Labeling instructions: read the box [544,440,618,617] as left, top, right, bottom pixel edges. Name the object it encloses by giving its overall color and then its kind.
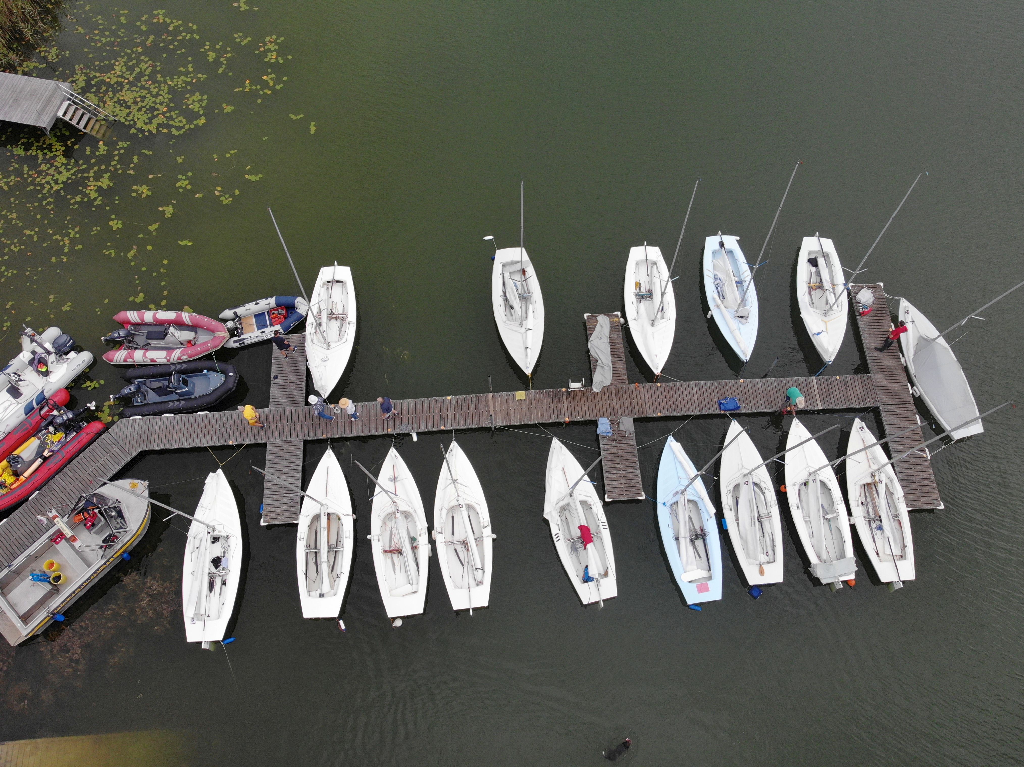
white boat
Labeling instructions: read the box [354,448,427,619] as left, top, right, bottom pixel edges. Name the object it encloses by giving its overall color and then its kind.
white boat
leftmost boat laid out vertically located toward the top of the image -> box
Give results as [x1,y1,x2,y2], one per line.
[267,200,356,398]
